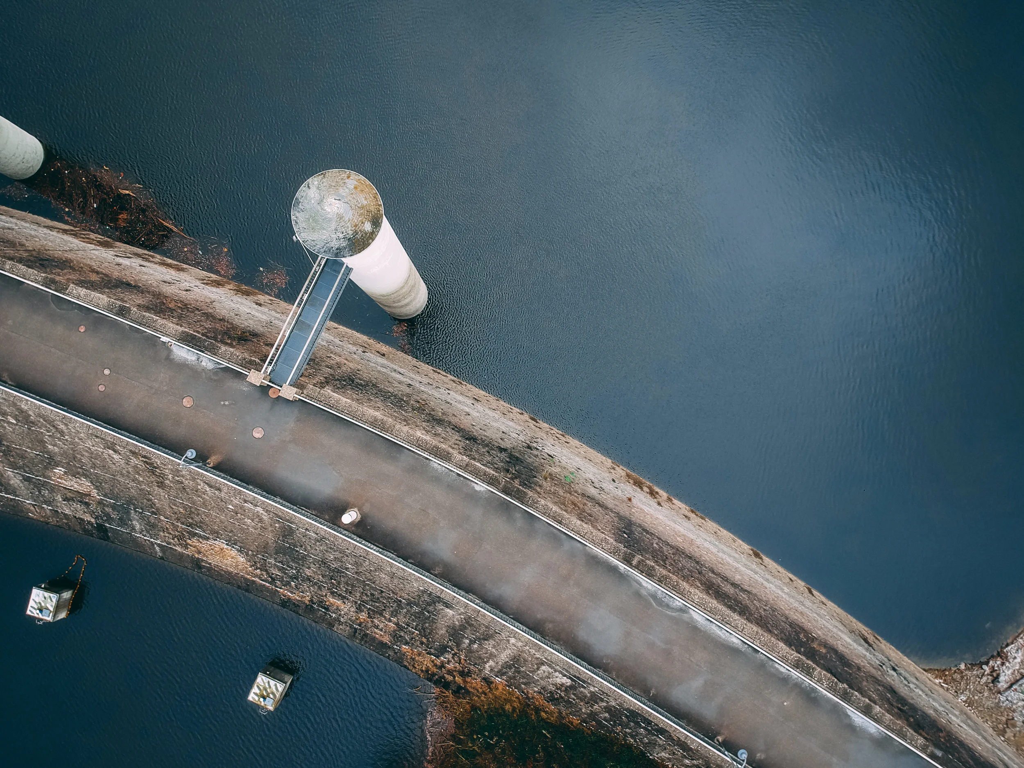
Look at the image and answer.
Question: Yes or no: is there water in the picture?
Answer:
Yes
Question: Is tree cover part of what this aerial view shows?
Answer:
No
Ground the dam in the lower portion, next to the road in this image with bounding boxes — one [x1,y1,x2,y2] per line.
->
[0,203,1024,768]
